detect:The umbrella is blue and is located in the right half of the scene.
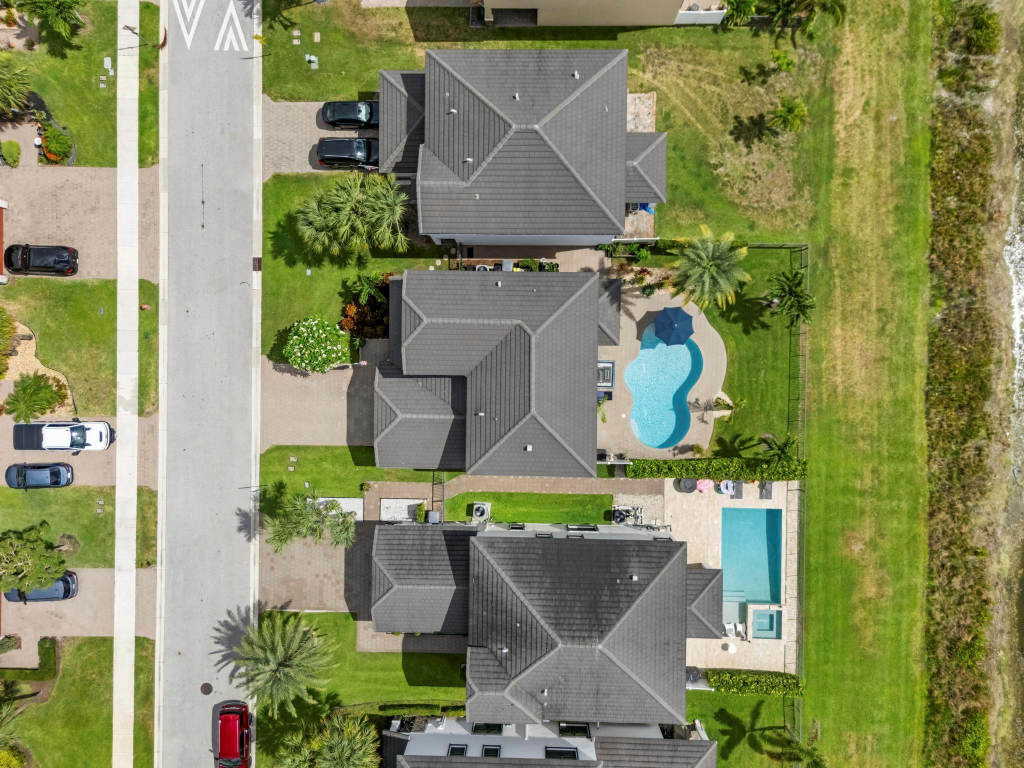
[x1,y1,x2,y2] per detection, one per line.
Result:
[652,305,695,348]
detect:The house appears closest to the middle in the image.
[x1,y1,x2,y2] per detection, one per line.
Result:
[371,269,622,479]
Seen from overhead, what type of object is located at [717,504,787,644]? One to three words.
swimming pool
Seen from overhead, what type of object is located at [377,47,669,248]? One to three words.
house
